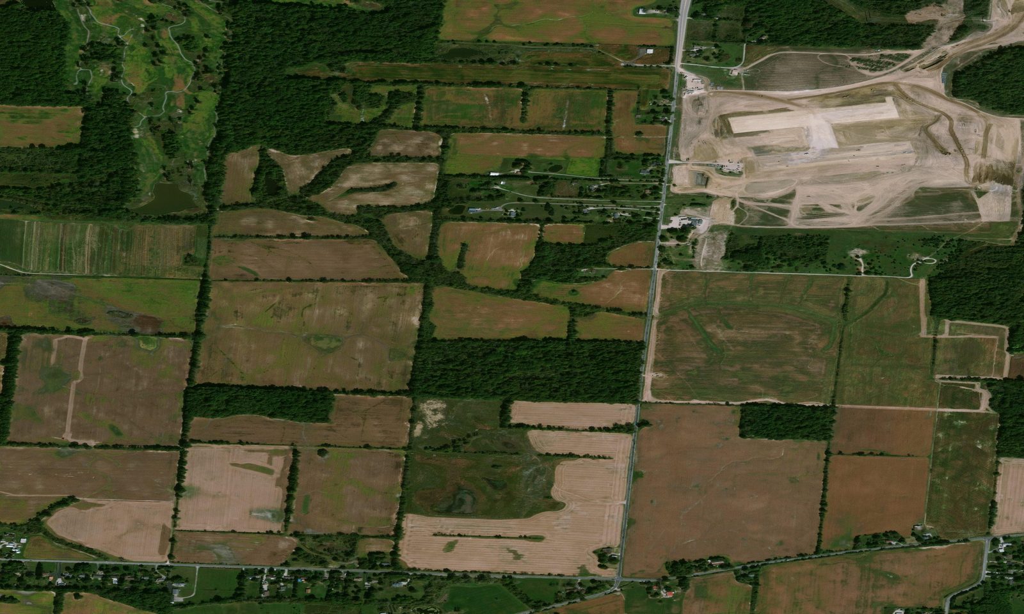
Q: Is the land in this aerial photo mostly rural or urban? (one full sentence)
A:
It looks rural.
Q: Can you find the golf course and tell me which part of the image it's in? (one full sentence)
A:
The golf course is located in the top left region of the scene.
